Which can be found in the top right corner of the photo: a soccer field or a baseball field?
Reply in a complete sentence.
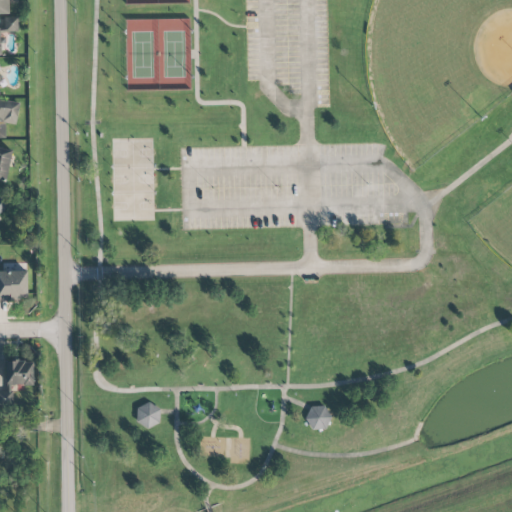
It is a baseball field that can be seen in the top right corner of the photo.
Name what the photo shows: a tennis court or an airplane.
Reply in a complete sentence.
The one in the frame is a tennis court.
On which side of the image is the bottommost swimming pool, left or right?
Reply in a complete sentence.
The bottommost swimming pool sits on the left side.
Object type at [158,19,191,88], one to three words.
tennis court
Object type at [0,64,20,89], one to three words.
swimming pool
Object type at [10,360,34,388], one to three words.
house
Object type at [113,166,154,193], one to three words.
basketball court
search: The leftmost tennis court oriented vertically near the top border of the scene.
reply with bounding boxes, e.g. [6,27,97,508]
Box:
[126,19,158,88]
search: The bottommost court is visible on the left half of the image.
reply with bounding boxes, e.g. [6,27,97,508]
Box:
[114,193,155,220]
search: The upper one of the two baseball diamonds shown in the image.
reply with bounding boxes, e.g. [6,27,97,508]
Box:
[366,0,512,170]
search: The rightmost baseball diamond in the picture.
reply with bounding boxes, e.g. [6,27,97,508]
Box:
[466,186,512,265]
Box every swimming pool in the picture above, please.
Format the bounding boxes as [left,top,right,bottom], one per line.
[0,64,20,89]
[0,33,18,54]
